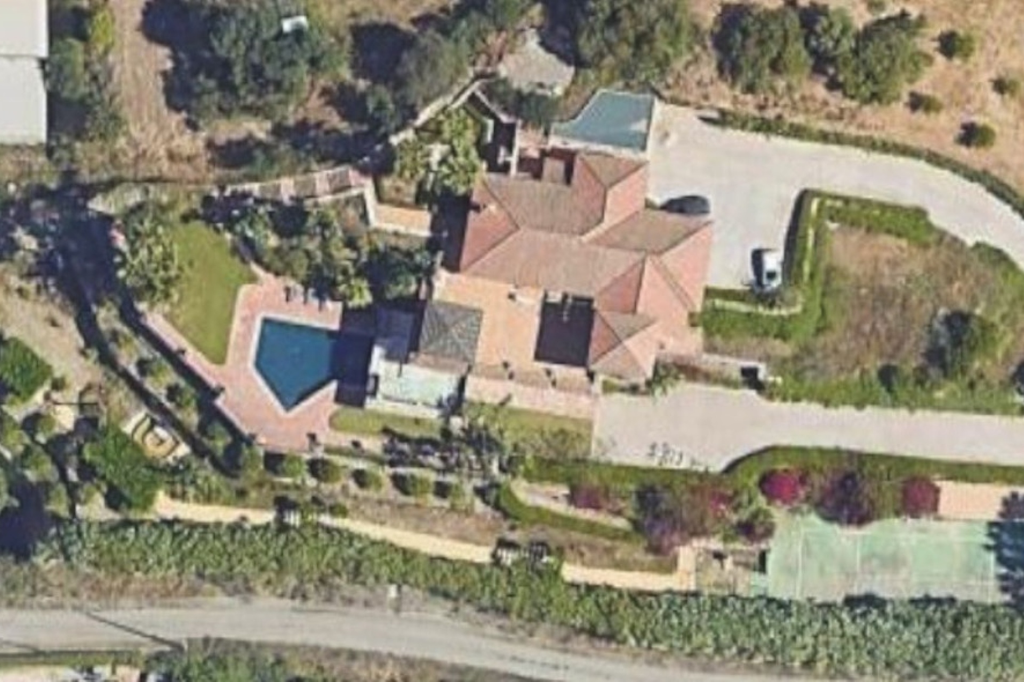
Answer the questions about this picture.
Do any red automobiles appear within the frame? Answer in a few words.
No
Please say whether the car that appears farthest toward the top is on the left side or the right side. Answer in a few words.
right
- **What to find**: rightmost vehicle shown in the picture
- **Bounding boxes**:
[763,248,782,292]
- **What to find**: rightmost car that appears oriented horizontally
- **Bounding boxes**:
[665,195,712,216]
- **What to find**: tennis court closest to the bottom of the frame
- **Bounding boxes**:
[765,514,1024,603]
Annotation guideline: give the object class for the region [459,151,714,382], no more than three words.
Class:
house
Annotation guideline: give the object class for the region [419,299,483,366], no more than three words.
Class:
building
